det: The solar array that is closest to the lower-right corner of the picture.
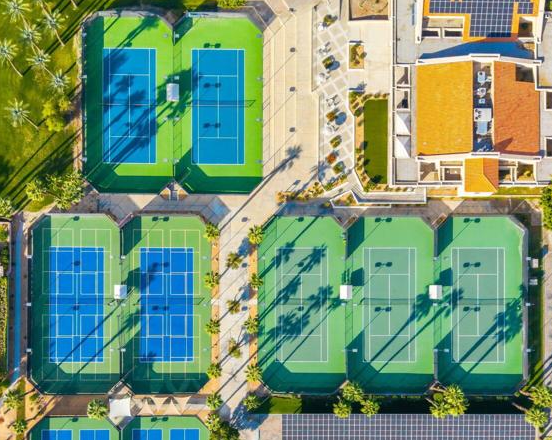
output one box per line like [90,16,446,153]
[282,414,536,440]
